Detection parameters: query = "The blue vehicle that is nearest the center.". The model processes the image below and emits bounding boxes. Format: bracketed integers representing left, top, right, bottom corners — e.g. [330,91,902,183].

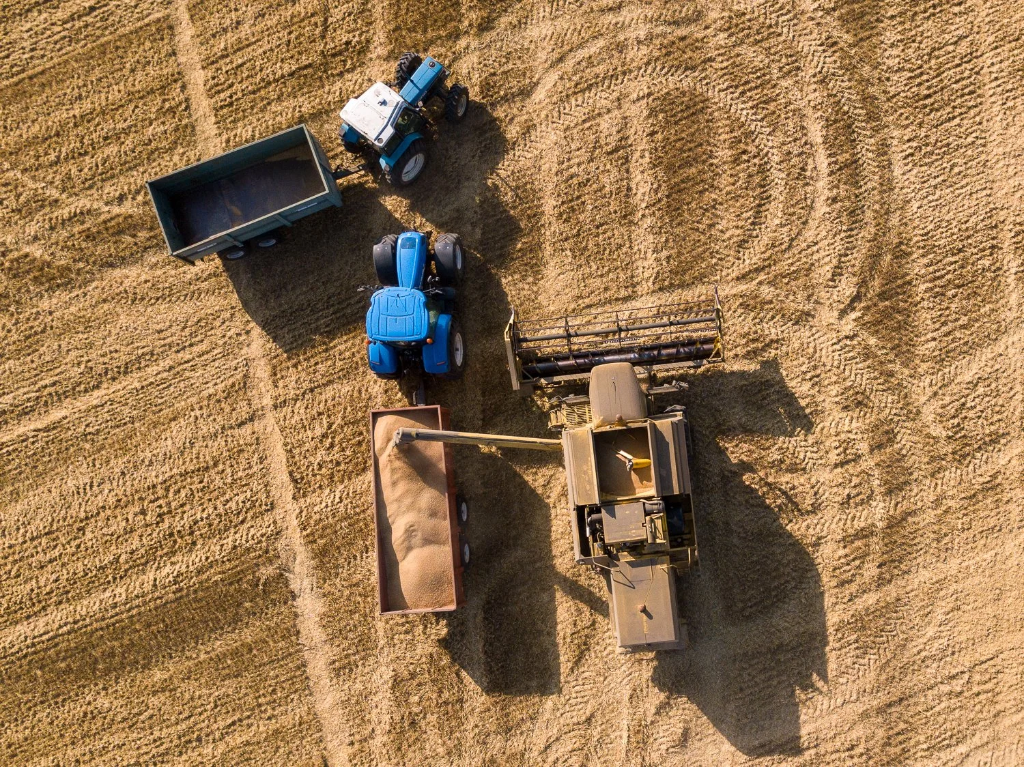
[354,225,465,394]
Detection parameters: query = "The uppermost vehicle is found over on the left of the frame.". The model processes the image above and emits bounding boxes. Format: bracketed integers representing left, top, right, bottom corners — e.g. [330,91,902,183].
[338,45,471,187]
